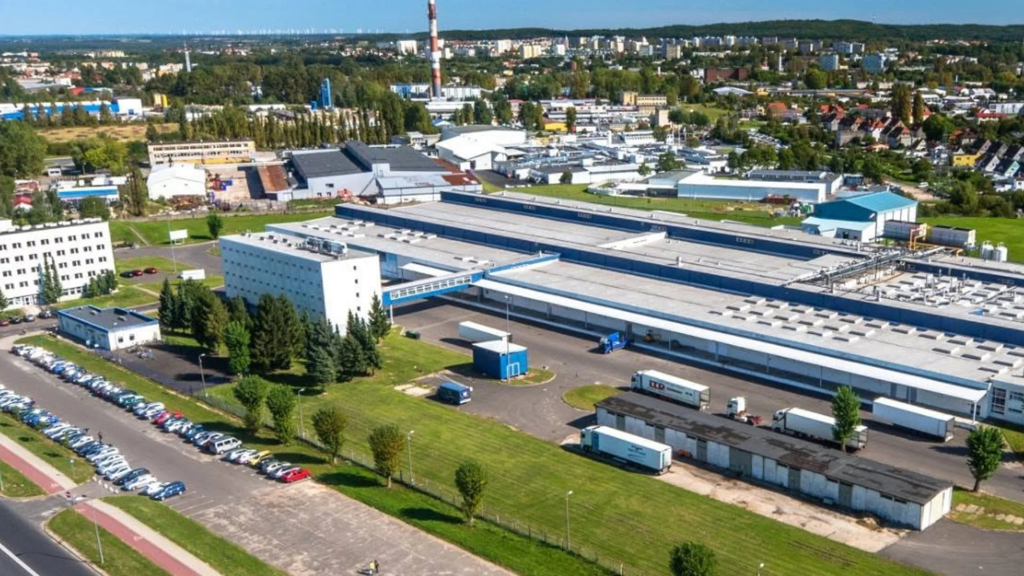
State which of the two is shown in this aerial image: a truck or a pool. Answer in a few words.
truck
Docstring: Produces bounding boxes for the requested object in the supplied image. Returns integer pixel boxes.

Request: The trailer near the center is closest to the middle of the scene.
[459,322,509,343]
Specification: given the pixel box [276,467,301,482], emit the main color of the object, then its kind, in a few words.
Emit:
red car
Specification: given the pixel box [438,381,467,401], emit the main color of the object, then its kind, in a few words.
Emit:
blue vehicle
